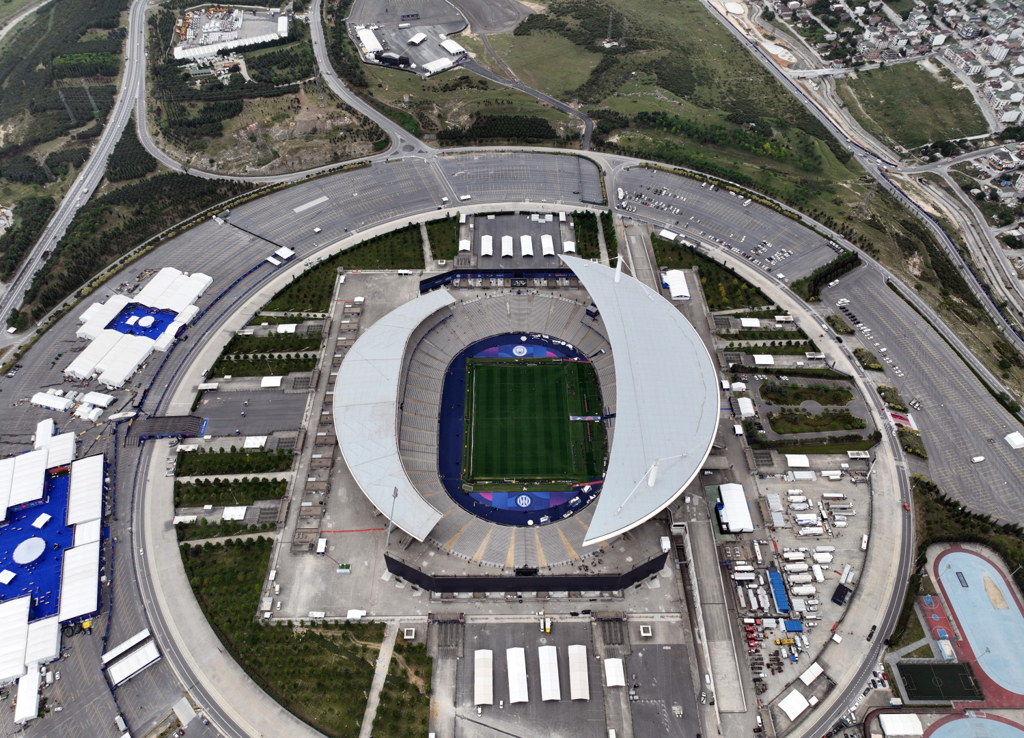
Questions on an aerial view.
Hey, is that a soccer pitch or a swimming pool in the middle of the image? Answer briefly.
soccer pitch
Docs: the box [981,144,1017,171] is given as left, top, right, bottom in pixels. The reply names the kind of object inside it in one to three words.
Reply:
house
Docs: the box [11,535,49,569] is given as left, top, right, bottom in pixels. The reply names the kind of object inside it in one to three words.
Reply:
umbrella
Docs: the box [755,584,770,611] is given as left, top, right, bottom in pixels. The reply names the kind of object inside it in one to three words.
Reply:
vehicle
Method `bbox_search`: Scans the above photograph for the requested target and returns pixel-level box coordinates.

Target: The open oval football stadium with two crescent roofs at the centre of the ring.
[261,254,768,626]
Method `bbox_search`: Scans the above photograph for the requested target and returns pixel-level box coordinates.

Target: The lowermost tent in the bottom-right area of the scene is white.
[875,713,923,738]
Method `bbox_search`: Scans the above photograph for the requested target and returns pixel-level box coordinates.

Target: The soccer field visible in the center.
[461,357,606,492]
